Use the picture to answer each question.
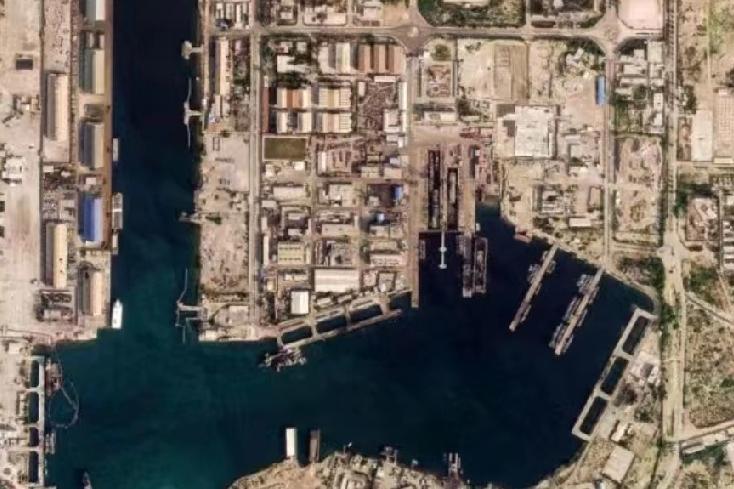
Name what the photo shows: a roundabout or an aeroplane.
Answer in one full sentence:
Visible in the photo is a roundabout.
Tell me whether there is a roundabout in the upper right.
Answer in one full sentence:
Yes, there is a roundabout in the upper right.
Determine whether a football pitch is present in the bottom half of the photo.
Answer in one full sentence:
No, the scene shows no football pitch in the bottom half of the photo.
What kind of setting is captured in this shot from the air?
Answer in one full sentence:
This image shows a port.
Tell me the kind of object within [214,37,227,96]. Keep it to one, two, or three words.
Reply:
building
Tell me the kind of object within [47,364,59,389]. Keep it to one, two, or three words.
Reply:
ship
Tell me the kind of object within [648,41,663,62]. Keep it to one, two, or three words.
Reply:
building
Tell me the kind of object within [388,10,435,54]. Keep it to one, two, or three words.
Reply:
roundabout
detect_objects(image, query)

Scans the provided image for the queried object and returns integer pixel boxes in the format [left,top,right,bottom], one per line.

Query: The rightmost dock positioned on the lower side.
[556,267,606,355]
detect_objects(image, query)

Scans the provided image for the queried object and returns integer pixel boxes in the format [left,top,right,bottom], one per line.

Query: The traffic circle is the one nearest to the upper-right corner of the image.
[584,8,634,58]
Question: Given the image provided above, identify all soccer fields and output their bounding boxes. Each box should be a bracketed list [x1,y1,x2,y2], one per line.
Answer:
[264,136,307,161]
